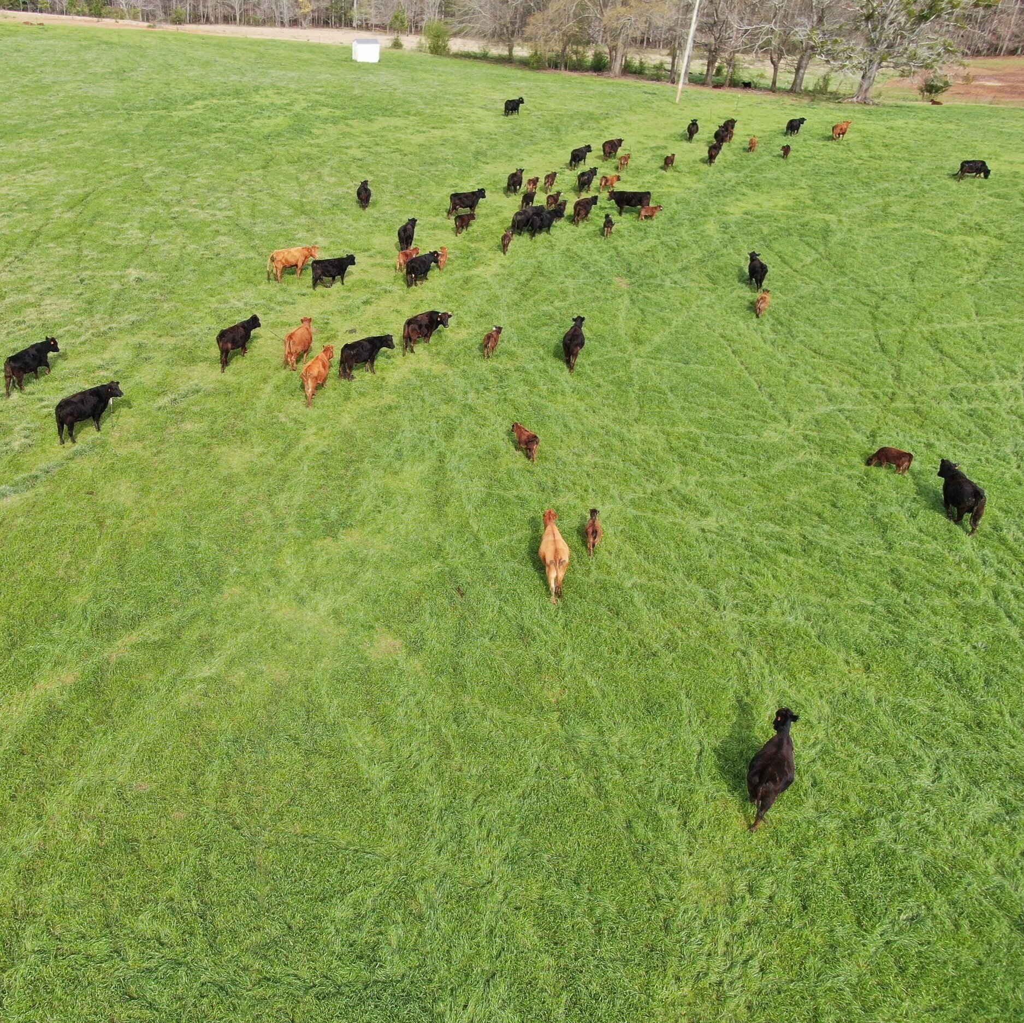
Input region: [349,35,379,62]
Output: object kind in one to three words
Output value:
shed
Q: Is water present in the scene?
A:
No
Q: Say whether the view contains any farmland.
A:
Yes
